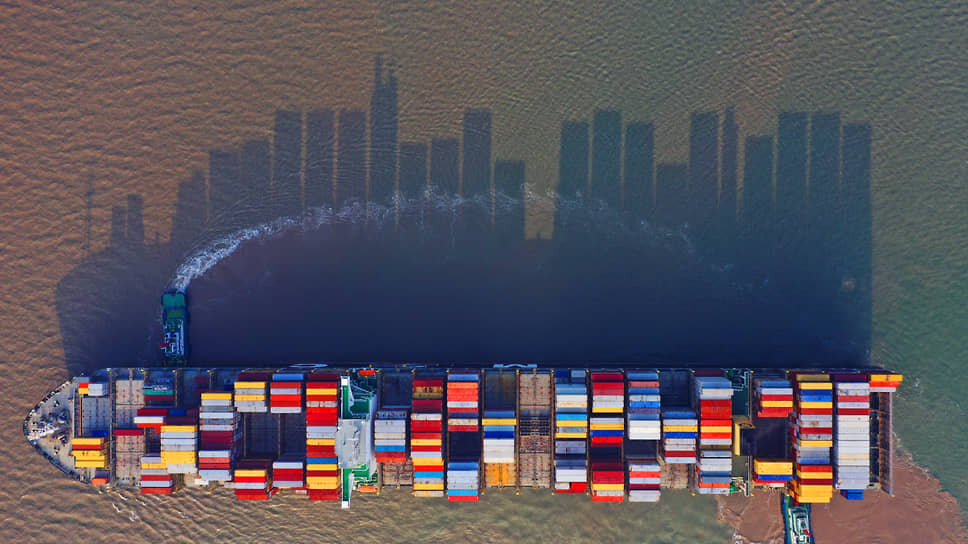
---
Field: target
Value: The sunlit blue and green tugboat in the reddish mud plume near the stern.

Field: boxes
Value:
[784,489,819,544]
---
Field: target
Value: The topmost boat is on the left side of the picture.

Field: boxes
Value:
[157,290,190,366]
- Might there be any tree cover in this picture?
No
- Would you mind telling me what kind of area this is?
port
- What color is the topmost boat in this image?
blue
